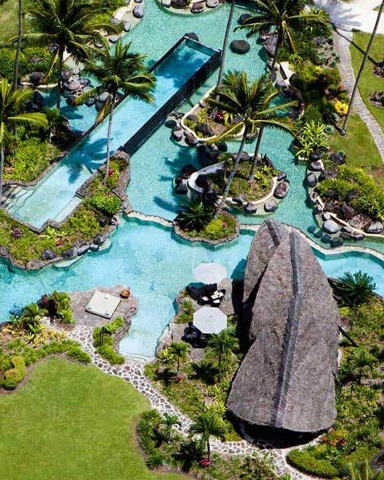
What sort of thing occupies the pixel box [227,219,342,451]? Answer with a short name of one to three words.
shed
